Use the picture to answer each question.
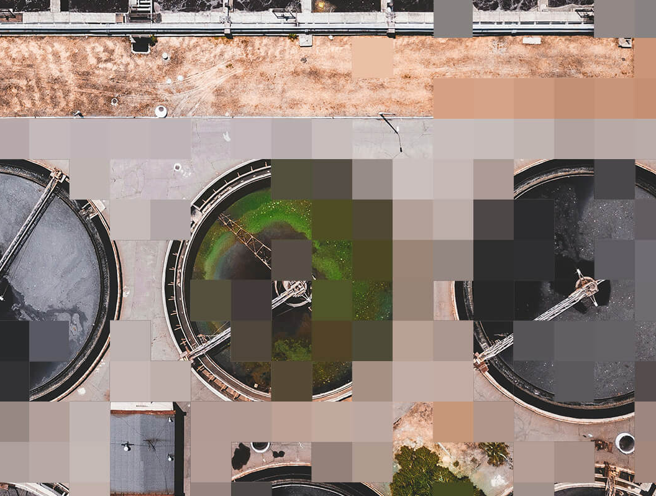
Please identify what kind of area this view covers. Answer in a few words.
industrial area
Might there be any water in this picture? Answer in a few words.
Yes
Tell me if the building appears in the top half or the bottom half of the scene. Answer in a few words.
bottom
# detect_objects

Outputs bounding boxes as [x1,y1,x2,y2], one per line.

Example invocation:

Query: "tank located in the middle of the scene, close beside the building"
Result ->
[162,153,435,424]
